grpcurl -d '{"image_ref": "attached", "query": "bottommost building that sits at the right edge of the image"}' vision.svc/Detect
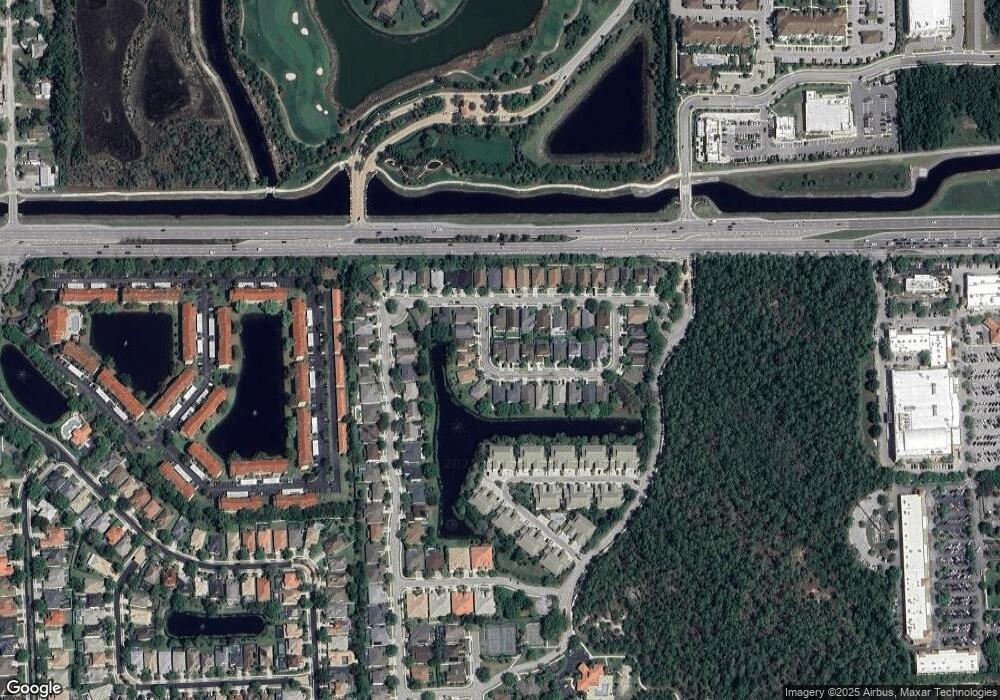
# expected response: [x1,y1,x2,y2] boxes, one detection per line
[917,649,978,673]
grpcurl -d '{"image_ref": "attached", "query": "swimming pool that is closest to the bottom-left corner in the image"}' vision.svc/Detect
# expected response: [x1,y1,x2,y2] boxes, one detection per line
[62,416,82,440]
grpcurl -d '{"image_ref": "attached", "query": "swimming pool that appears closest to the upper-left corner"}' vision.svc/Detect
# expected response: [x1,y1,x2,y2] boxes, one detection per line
[63,309,83,341]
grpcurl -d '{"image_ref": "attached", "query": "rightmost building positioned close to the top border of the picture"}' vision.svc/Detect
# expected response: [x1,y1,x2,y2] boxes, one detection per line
[908,0,951,38]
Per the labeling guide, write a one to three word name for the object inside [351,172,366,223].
bridge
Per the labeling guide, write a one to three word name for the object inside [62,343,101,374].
building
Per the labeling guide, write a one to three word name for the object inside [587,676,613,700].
swimming pool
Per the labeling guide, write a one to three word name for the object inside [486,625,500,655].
tennis court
